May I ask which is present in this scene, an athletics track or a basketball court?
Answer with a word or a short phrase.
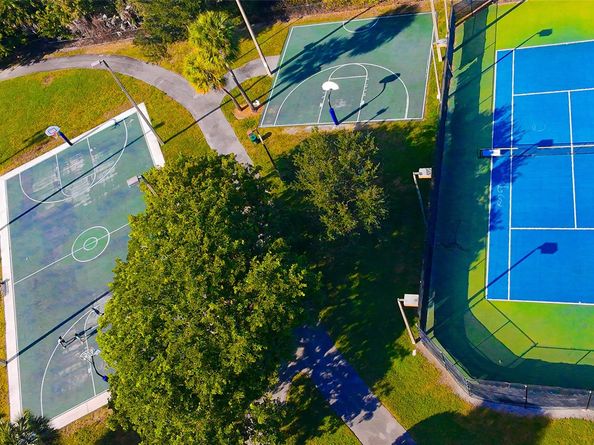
basketball court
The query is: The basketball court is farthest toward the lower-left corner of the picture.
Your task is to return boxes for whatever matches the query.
[0,103,207,445]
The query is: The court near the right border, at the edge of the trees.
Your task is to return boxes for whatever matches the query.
[421,0,594,421]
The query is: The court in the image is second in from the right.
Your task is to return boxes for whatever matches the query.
[261,9,432,127]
